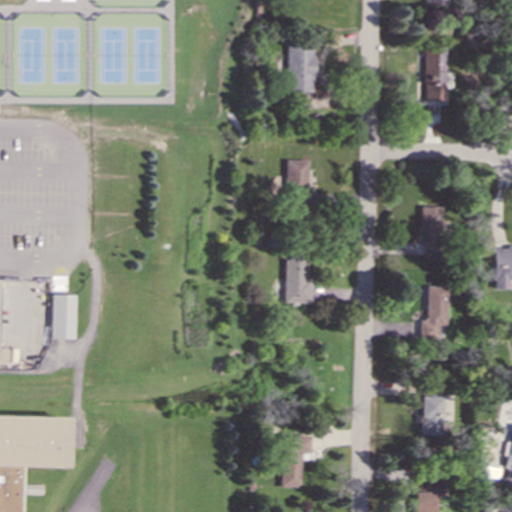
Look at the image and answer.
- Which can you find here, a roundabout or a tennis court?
tennis court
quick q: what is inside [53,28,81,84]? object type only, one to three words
tennis court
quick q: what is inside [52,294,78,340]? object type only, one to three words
shed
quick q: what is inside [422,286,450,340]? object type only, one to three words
house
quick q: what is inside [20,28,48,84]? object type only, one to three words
tennis court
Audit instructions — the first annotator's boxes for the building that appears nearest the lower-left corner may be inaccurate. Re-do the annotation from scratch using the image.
[0,416,76,512]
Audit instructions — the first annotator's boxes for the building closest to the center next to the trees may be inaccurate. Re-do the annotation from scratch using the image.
[286,260,316,304]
